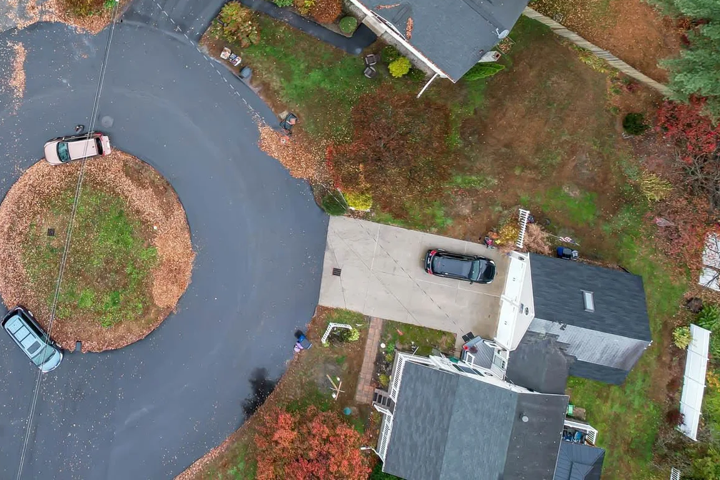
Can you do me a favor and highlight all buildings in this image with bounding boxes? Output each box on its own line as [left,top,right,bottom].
[349,0,529,96]
[341,251,654,480]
